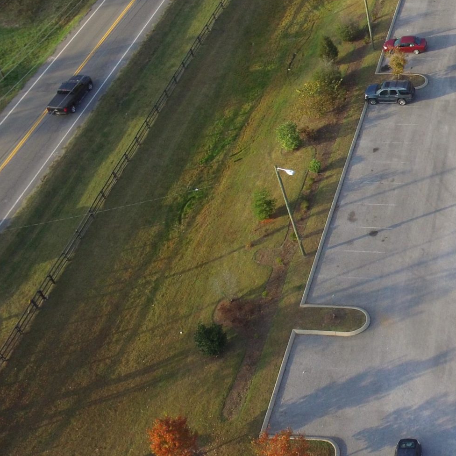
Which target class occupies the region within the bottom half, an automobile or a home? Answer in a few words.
automobile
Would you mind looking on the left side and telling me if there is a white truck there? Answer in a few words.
No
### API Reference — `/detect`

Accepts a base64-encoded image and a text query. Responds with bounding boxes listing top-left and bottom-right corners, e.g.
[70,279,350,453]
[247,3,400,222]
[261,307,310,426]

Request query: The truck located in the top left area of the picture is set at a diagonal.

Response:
[53,70,98,110]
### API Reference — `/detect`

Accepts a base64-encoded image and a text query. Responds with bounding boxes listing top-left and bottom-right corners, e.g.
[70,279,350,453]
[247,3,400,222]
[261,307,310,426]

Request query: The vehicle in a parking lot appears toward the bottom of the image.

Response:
[392,440,422,456]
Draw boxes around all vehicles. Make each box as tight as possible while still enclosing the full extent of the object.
[365,80,419,104]
[385,35,429,54]
[53,70,98,110]
[392,440,422,456]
